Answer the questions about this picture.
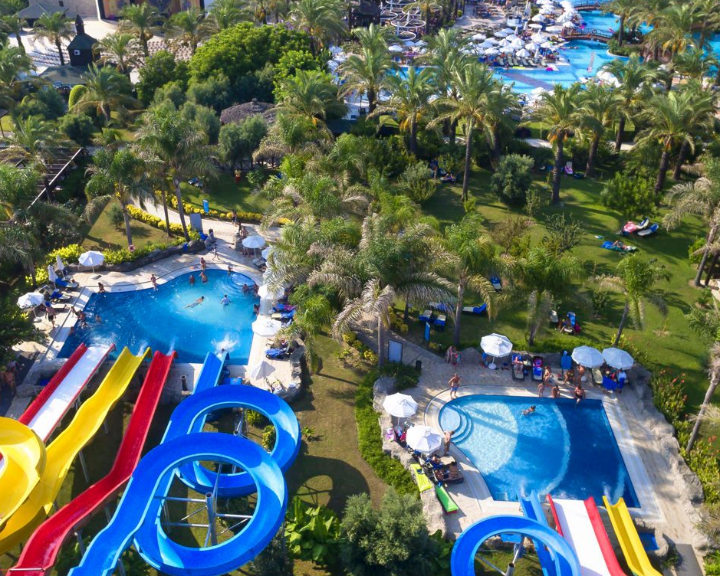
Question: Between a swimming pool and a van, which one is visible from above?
swimming pool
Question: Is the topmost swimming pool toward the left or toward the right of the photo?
right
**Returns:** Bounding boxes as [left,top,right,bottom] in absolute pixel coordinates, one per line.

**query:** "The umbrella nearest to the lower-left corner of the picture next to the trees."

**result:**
[18,295,49,333]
